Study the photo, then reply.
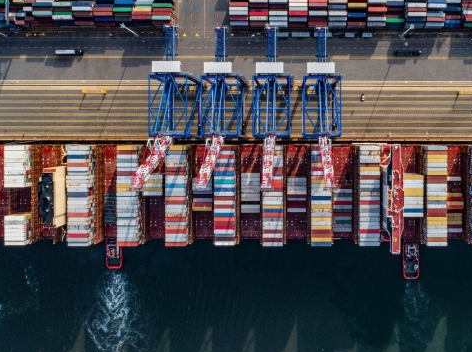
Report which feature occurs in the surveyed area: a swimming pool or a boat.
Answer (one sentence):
Visible in the photo is a boat.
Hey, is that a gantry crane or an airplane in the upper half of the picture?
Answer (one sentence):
Looking in the upper half of the picture, you will find a gantry crane.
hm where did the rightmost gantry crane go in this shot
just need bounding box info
[298,20,343,191]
